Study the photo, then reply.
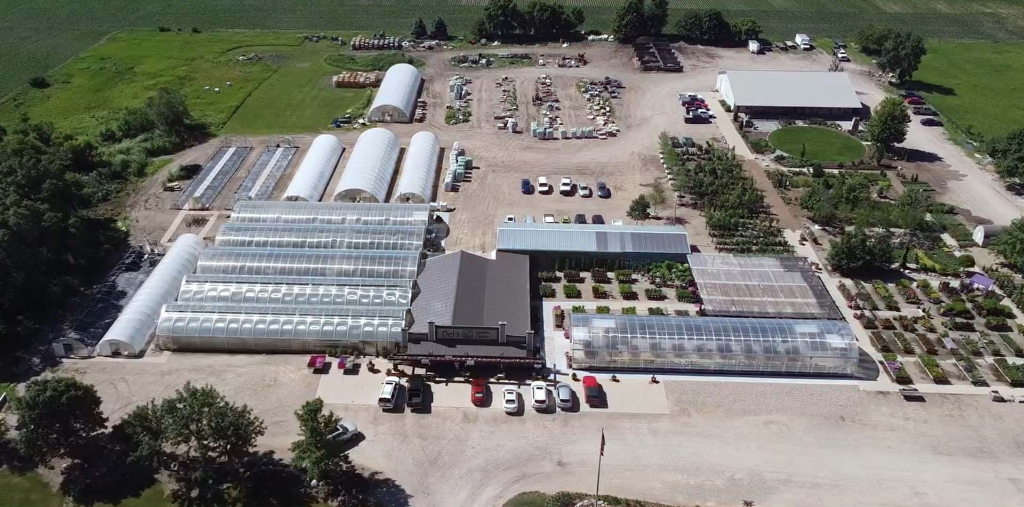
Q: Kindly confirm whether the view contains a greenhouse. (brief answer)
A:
Yes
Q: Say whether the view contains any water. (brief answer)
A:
No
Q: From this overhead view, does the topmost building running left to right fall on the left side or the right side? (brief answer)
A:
right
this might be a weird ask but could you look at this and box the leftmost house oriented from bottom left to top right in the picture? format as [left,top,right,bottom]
[47,227,174,359]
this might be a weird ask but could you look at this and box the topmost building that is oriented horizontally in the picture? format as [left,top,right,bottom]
[712,70,862,122]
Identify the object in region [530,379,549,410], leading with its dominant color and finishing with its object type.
white car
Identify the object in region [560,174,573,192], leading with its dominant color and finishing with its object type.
white vehicle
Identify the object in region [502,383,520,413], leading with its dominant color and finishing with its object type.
white car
